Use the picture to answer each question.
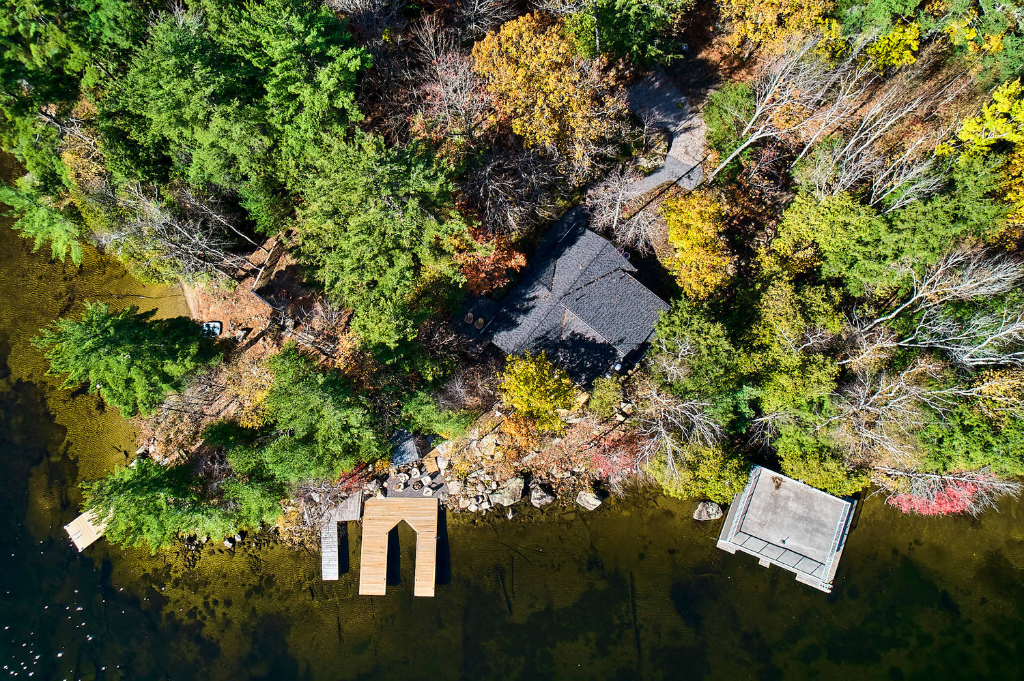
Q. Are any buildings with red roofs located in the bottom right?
No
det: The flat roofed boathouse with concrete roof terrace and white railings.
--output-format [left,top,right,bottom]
[714,466,862,592]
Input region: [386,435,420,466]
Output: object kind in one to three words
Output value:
shed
